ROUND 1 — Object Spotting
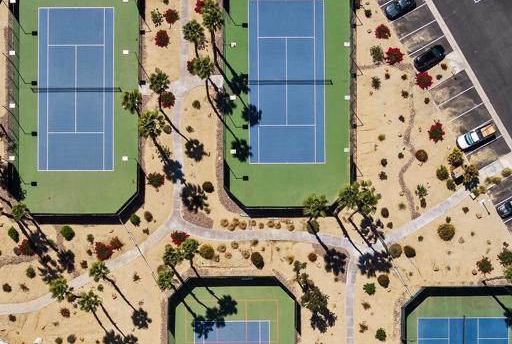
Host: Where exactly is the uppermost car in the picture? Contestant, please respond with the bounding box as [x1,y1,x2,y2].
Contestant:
[383,0,417,20]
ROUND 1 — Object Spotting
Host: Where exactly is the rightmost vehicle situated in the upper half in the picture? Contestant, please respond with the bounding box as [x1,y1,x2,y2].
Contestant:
[454,121,497,152]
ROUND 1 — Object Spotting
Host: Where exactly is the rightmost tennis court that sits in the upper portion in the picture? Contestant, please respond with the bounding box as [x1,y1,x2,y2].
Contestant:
[226,0,350,206]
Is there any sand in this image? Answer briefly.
Yes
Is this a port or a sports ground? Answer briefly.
sports ground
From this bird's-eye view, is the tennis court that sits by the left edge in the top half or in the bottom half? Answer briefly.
top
